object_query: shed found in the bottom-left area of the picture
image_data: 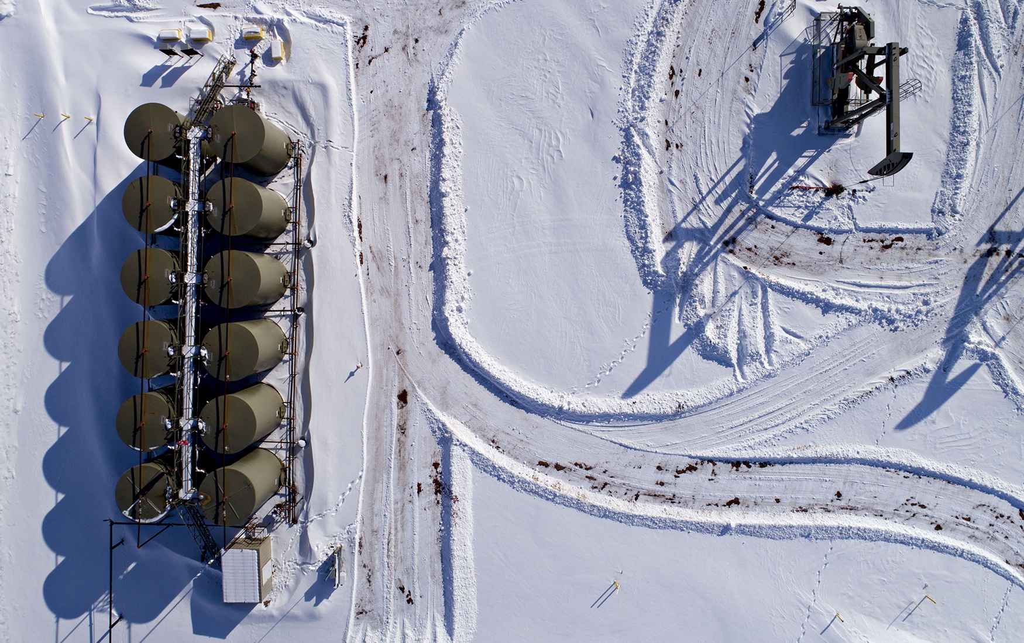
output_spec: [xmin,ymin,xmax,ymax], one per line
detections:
[222,538,272,604]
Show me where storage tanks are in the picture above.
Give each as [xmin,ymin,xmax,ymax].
[121,175,187,240]
[123,101,217,175]
[200,384,291,455]
[203,251,295,310]
[202,320,293,383]
[120,249,185,308]
[118,318,183,380]
[205,178,296,243]
[198,448,292,526]
[207,104,300,177]
[117,382,181,452]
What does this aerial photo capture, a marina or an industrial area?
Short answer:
industrial area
